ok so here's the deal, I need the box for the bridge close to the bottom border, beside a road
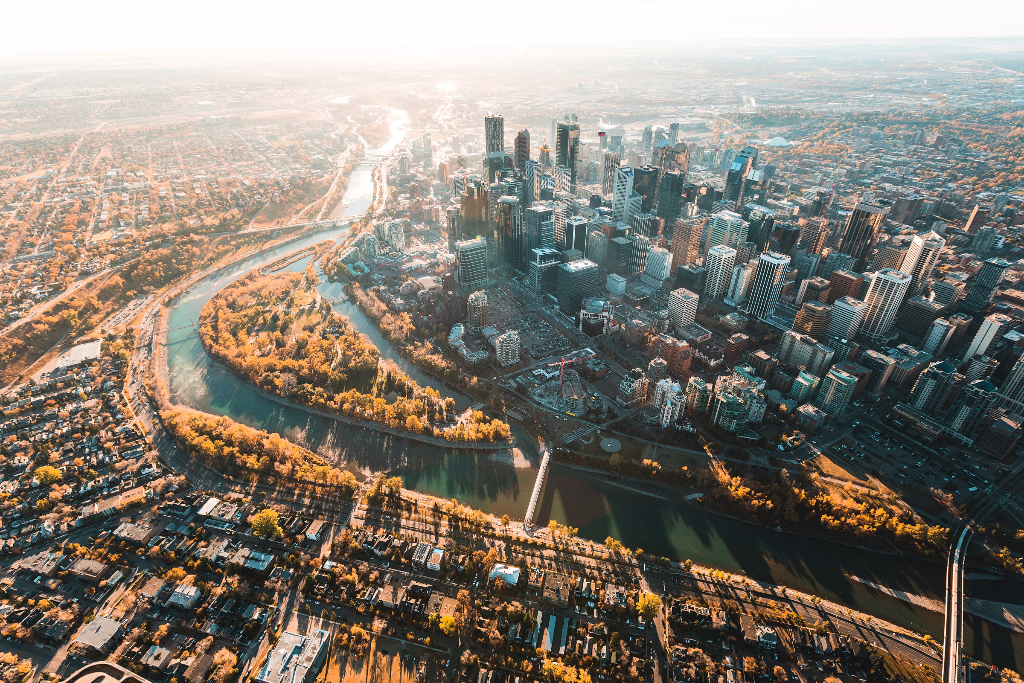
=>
[941,501,987,683]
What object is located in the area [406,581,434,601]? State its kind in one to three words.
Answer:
house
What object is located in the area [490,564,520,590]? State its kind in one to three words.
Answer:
house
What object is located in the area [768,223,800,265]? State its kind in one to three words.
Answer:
building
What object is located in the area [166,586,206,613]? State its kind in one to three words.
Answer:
building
